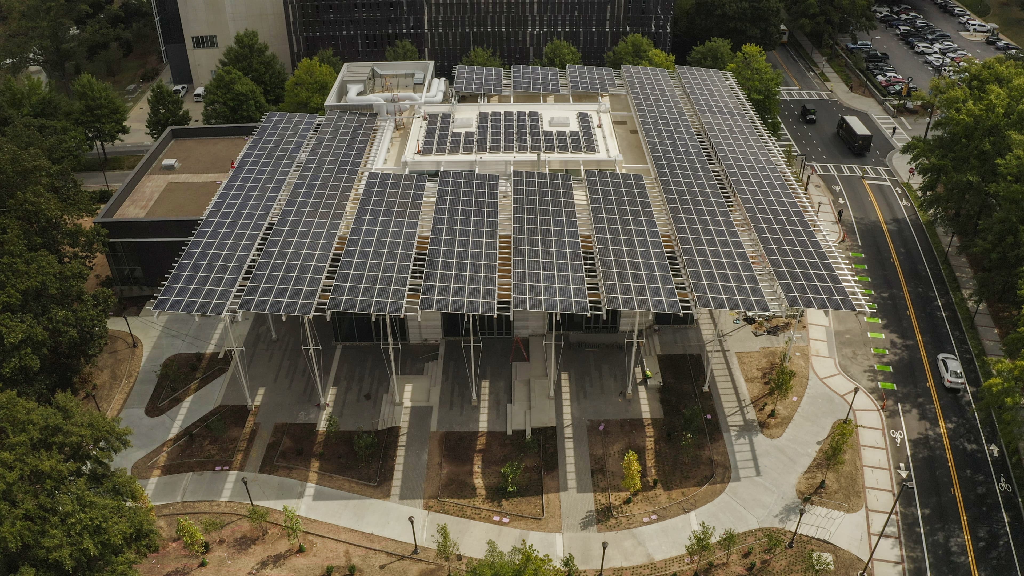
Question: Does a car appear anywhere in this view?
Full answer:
Yes, there is a car in the image.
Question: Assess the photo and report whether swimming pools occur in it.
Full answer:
No, I can see no swimming pool in this picture.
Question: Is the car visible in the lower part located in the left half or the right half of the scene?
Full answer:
It is on the right.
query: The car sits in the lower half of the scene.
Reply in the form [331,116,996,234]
[935,353,968,391]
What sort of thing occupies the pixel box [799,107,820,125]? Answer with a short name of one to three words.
car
